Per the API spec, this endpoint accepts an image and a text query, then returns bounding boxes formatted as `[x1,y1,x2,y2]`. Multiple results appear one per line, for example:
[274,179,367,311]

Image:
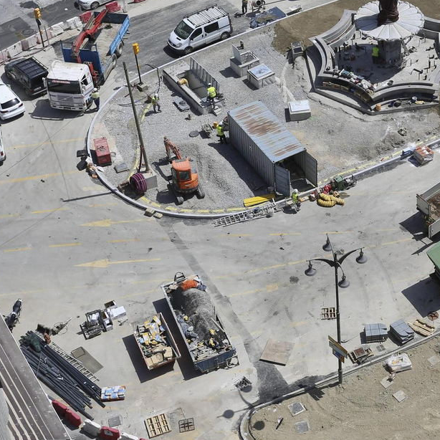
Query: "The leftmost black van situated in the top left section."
[2,58,46,101]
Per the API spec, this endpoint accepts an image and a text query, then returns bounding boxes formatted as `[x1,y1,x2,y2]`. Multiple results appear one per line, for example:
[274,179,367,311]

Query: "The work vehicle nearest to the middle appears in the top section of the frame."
[165,128,204,204]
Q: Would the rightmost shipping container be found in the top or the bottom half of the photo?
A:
top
